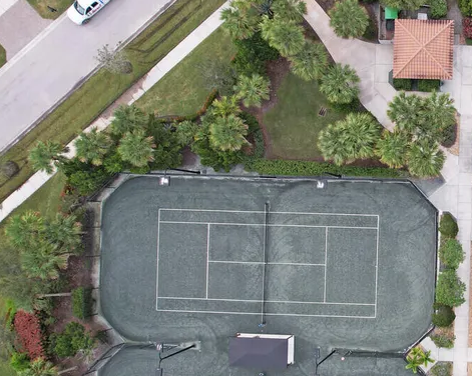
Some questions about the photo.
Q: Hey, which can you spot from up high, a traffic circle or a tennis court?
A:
tennis court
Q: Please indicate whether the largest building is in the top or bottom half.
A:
top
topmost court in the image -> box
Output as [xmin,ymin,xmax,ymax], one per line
[100,177,436,354]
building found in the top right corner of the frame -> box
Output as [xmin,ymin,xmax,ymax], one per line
[393,18,454,82]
